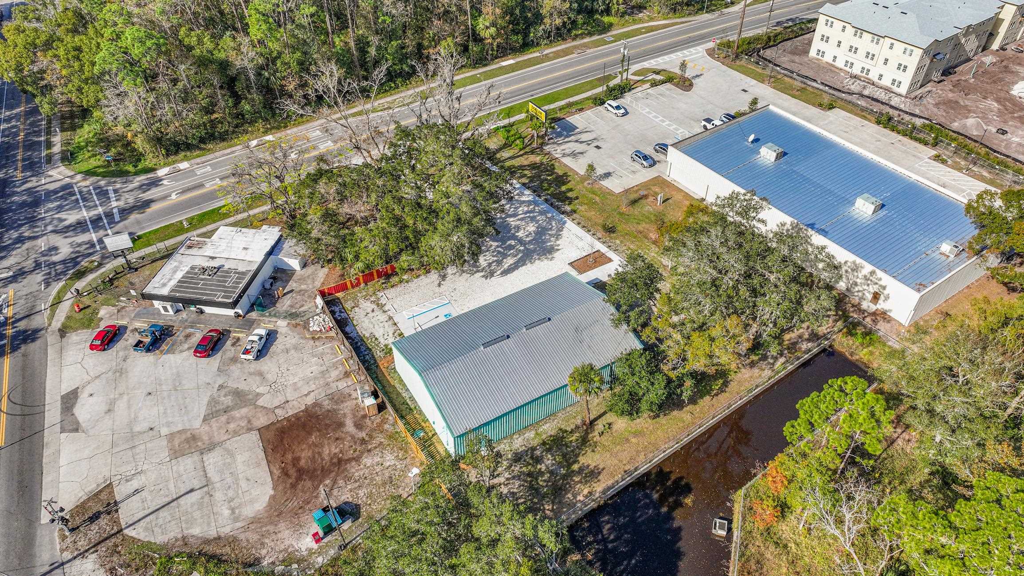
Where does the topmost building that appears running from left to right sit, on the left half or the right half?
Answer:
right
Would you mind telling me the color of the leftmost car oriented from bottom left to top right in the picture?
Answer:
red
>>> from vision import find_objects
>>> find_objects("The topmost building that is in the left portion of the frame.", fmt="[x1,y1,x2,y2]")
[141,226,314,314]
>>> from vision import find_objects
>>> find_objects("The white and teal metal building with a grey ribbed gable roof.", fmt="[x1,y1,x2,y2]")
[389,269,648,459]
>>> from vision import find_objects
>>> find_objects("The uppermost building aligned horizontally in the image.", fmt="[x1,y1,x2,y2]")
[809,0,1024,95]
